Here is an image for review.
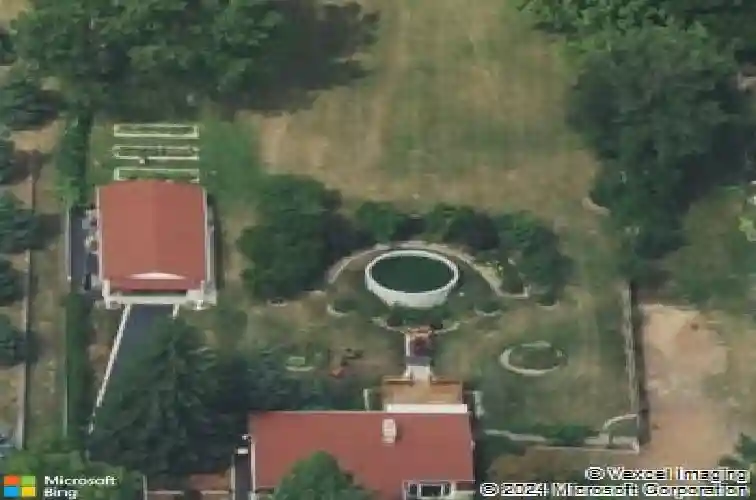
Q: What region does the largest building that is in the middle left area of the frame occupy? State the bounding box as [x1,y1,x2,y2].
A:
[102,179,210,312]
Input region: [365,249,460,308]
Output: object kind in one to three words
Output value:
swimming pool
